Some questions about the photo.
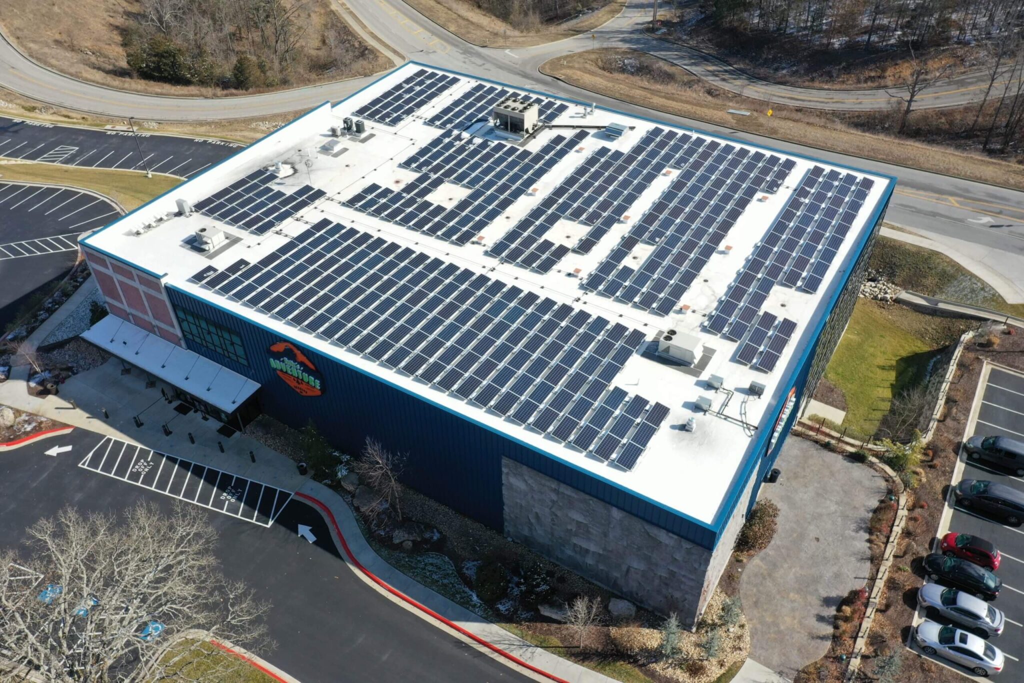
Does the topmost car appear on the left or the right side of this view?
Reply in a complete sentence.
It is on the right.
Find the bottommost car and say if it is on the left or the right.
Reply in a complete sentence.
The bottommost car is on the right side of the image.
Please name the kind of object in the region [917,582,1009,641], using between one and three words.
car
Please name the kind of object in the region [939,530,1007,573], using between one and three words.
car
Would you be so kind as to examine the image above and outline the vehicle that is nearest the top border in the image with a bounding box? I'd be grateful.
[965,433,1024,476]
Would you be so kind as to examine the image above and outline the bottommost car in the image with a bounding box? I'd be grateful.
[913,618,1008,681]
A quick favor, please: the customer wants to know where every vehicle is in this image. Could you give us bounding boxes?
[939,530,1007,573]
[965,433,1024,476]
[955,477,1024,525]
[913,618,1008,681]
[921,551,1008,605]
[917,582,1009,641]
